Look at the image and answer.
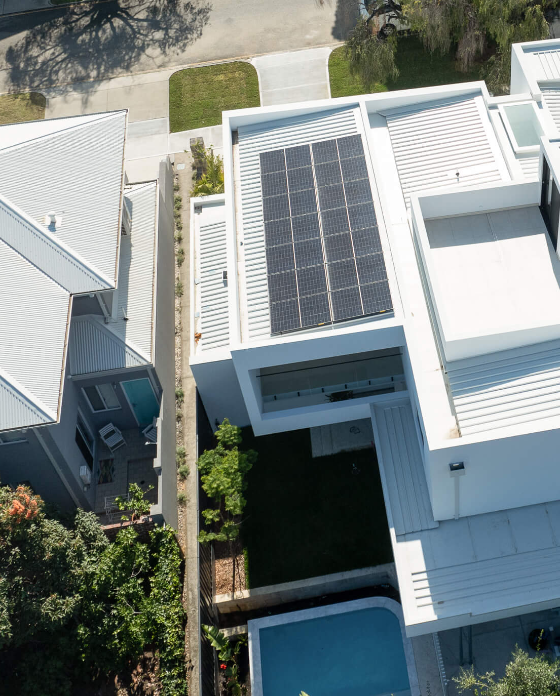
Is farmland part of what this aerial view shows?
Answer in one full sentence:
No, there's no farmland in this view.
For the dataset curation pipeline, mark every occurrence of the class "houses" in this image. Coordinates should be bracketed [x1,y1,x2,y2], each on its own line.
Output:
[185,39,560,639]
[0,105,156,511]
